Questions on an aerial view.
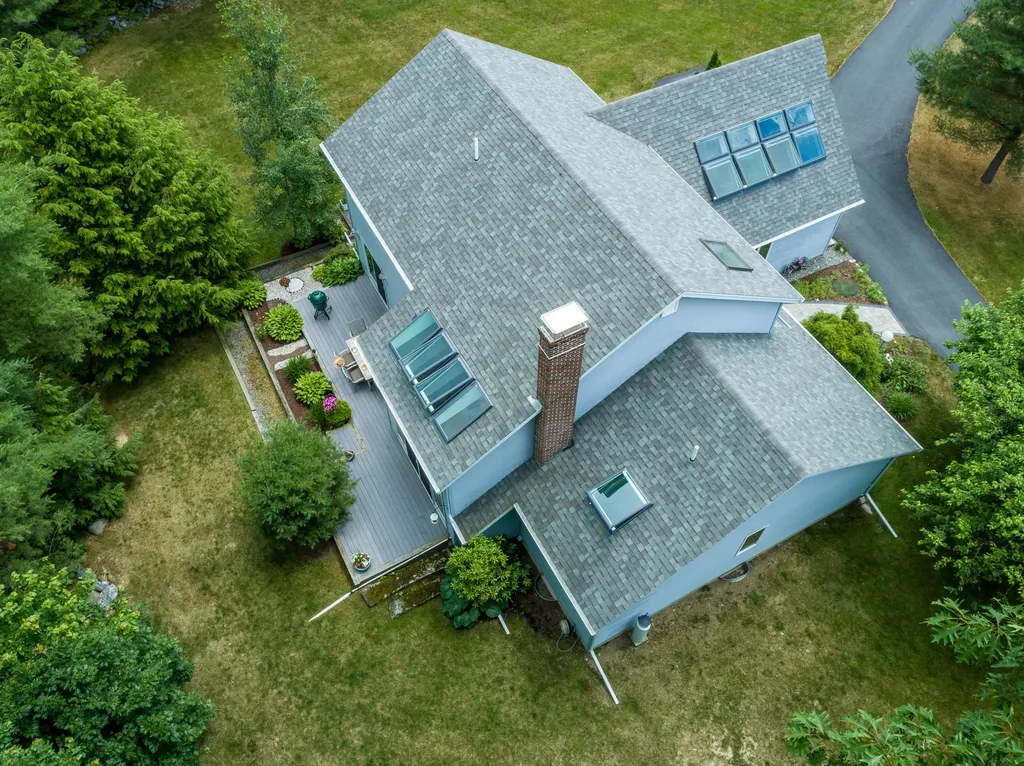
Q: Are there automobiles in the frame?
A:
No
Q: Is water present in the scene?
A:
No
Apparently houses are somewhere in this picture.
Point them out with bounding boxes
[319,28,923,650]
